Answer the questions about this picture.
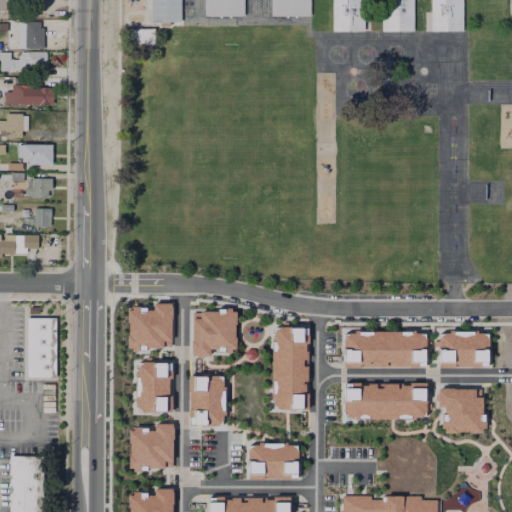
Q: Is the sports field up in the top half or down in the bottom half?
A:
top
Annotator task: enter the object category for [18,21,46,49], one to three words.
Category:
house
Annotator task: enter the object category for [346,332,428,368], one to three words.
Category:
building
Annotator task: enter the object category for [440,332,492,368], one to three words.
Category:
building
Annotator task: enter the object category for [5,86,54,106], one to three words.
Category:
house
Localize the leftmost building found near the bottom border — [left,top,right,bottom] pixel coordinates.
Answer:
[10,448,44,512]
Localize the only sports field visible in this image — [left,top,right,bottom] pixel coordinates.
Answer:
[114,0,512,282]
